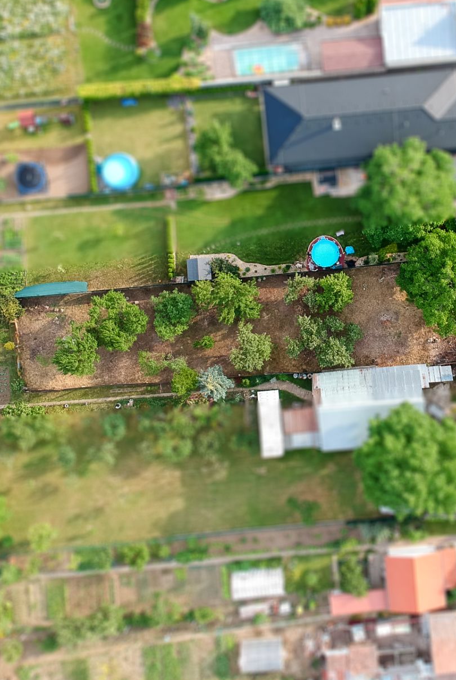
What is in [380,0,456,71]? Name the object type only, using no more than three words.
building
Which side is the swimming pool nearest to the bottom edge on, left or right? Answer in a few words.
right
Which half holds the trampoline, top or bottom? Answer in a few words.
top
